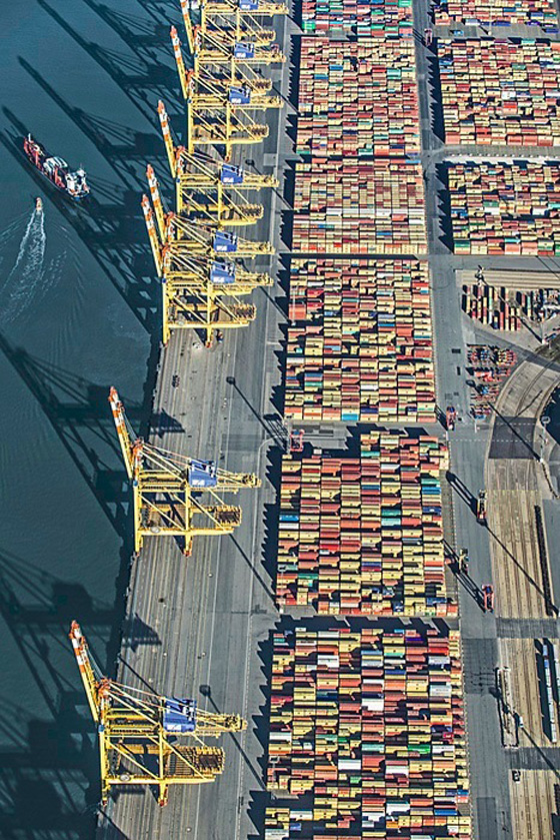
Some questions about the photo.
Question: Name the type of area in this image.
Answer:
port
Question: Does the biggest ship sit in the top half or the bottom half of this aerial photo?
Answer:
top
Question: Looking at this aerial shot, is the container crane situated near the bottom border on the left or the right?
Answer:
left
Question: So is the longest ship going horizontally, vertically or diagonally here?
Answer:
diagonally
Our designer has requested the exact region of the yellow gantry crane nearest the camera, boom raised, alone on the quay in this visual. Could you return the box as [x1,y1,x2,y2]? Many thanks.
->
[68,614,249,809]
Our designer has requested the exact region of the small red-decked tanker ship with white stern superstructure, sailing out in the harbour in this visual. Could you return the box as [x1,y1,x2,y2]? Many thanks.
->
[26,130,96,204]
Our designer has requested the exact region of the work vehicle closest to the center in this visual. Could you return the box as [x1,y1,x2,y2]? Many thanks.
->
[289,433,301,458]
